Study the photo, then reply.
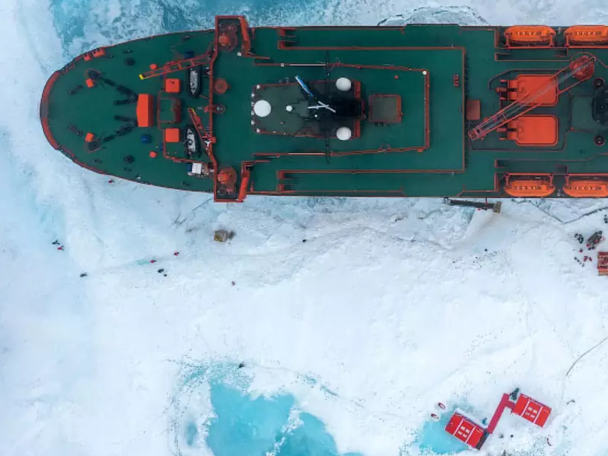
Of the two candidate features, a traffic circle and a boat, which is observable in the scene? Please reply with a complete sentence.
This aerial view contains a boat.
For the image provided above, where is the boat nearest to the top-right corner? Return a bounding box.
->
[563,26,608,46]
